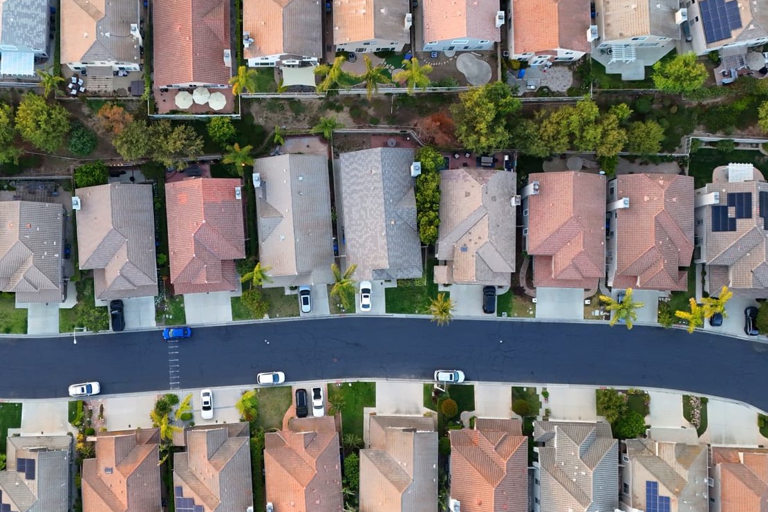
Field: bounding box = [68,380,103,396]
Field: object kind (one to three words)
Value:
car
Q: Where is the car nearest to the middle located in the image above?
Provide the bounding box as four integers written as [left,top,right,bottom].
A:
[359,281,373,312]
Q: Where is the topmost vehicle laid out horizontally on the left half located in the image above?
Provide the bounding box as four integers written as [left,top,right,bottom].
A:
[162,326,192,340]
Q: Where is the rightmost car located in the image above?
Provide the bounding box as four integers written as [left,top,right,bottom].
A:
[742,305,759,336]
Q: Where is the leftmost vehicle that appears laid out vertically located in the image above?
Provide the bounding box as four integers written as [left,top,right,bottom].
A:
[109,299,125,332]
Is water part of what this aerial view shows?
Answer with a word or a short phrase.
No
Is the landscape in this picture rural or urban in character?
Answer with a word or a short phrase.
urban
